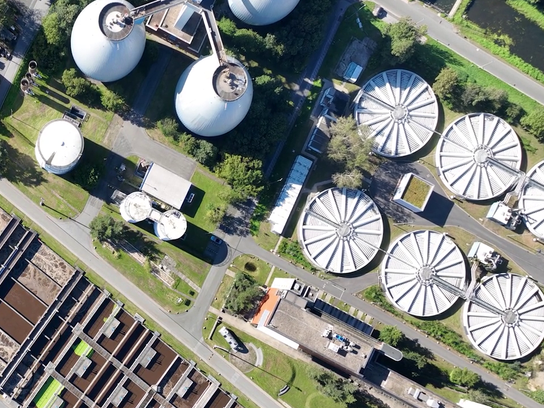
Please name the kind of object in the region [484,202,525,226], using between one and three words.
building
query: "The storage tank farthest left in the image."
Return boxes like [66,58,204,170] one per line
[33,116,83,174]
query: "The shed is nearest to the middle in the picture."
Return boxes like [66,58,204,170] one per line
[267,156,313,238]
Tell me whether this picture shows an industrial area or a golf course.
industrial area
